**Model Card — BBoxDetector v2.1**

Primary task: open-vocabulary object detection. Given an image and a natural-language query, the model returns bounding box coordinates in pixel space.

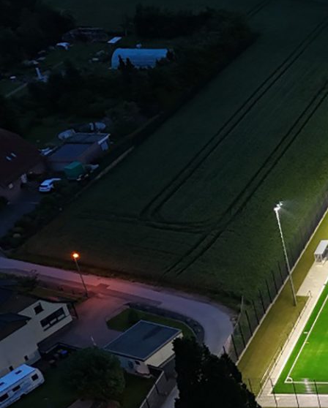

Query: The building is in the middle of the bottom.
[105,318,186,377]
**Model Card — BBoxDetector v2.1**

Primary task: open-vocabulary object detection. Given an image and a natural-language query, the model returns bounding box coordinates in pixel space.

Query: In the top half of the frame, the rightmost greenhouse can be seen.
[108,50,160,68]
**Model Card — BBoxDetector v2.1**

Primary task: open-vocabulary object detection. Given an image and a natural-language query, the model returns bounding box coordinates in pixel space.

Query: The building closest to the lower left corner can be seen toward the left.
[0,286,72,366]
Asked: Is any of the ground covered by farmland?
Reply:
Yes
